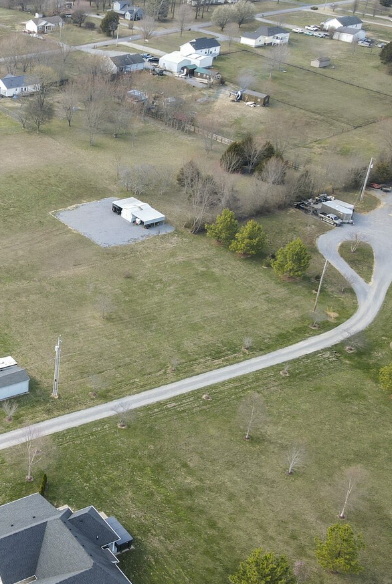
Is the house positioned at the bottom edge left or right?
left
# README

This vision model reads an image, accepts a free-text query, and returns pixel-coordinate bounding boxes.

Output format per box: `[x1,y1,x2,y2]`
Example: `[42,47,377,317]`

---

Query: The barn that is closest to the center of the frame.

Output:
[109,197,166,230]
